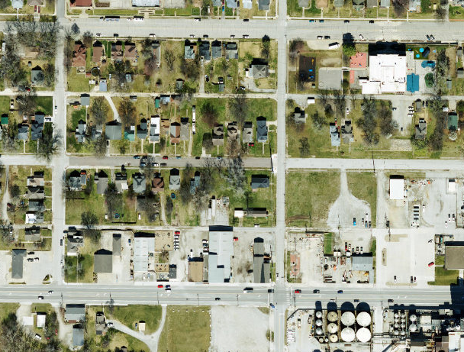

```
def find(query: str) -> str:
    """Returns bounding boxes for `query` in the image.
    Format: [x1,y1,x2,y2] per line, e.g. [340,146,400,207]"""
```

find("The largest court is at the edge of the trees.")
[318,67,342,89]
